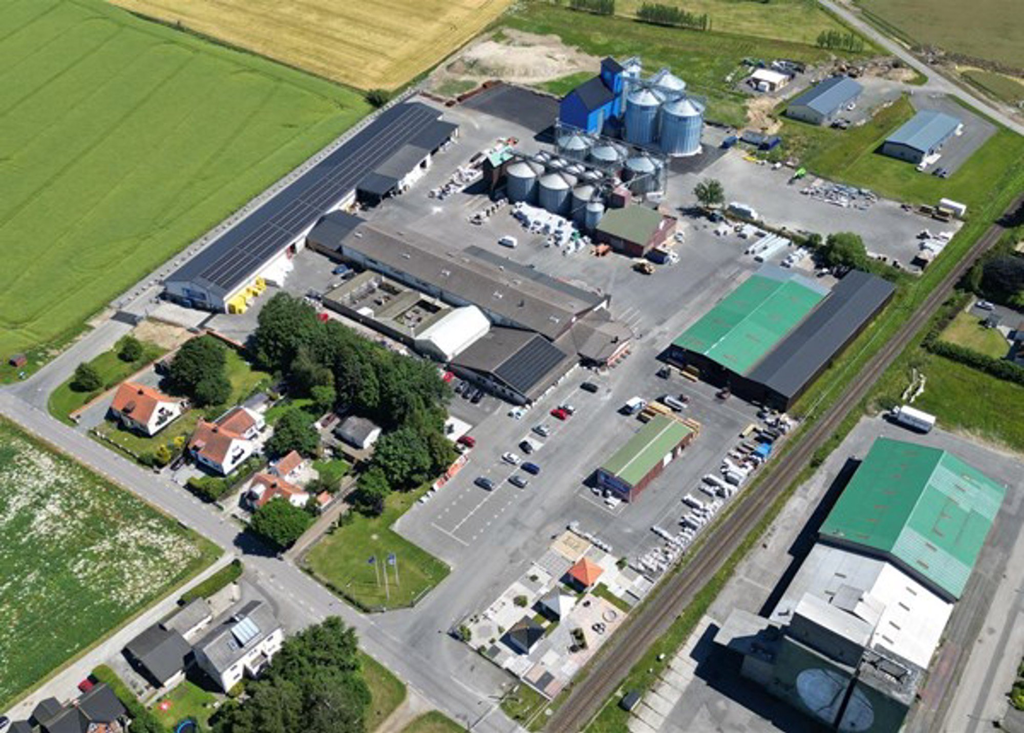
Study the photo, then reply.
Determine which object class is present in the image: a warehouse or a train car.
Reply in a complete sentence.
This aerial view contains a warehouse.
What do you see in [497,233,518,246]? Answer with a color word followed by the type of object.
white vehicle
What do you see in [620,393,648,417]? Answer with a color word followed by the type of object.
white truck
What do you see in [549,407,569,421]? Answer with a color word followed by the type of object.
red car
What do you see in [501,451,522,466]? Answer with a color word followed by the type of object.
white car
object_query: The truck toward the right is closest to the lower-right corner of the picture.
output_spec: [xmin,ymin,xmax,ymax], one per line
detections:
[889,404,941,435]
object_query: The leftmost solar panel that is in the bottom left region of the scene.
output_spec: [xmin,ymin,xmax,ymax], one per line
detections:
[233,620,260,646]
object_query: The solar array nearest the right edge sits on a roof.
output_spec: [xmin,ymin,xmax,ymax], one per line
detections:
[489,336,564,391]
